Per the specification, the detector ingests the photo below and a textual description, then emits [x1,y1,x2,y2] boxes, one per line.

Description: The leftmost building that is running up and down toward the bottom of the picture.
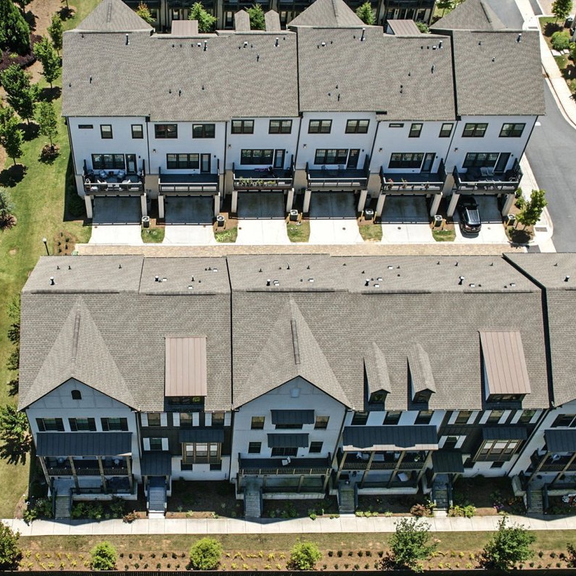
[16,253,143,516]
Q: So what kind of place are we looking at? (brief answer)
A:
residential area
